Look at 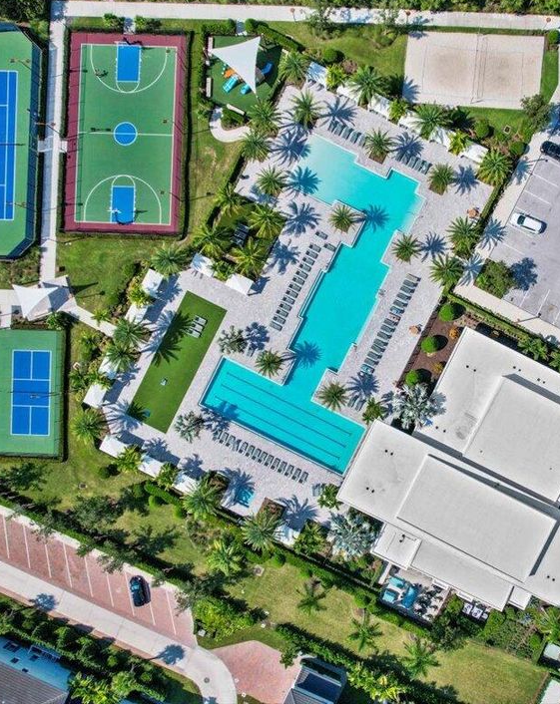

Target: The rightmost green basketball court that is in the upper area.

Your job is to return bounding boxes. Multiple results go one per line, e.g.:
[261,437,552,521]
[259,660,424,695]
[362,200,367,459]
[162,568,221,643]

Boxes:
[65,33,186,234]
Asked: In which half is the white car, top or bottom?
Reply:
top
